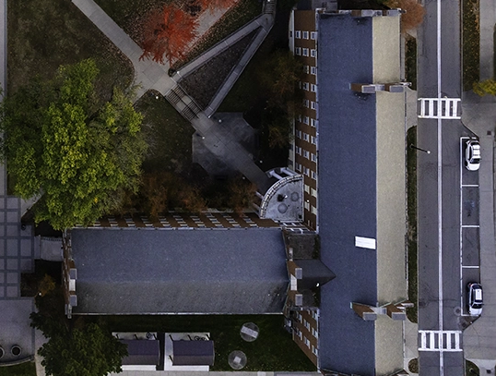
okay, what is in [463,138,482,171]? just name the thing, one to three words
car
